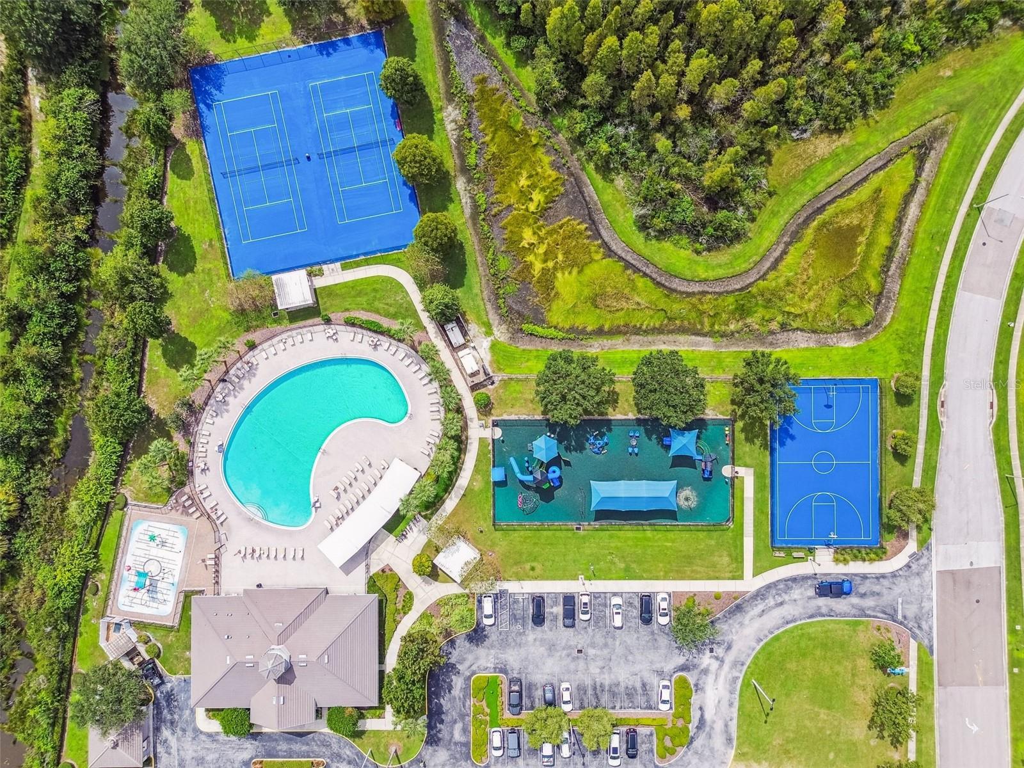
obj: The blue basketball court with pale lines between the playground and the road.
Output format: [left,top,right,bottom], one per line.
[770,378,881,547]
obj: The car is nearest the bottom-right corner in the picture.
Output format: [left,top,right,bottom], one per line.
[814,580,850,596]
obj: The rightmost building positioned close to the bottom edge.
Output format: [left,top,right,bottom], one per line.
[191,586,379,730]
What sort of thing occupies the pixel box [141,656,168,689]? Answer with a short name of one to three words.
truck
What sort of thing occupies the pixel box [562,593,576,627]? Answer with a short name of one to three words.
vehicle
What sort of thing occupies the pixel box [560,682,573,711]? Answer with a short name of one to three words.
vehicle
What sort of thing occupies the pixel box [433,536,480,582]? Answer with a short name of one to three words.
building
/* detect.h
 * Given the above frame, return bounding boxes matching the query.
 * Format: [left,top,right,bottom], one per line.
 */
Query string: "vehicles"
[814,580,850,596]
[657,592,671,623]
[639,594,654,624]
[559,729,573,757]
[608,731,622,764]
[531,595,545,626]
[562,593,576,627]
[560,682,573,711]
[508,677,522,714]
[482,594,496,625]
[625,728,639,757]
[490,728,504,756]
[541,745,555,764]
[578,592,592,620]
[610,597,624,628]
[542,683,556,710]
[507,727,521,758]
[658,680,672,709]
[141,656,168,689]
